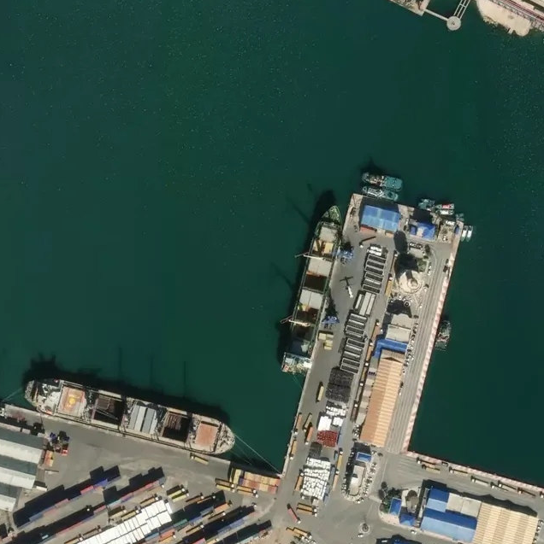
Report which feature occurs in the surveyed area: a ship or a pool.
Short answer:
ship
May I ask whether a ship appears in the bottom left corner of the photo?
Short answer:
Yes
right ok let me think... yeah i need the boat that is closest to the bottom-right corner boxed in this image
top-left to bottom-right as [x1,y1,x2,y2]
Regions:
[434,321,451,352]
